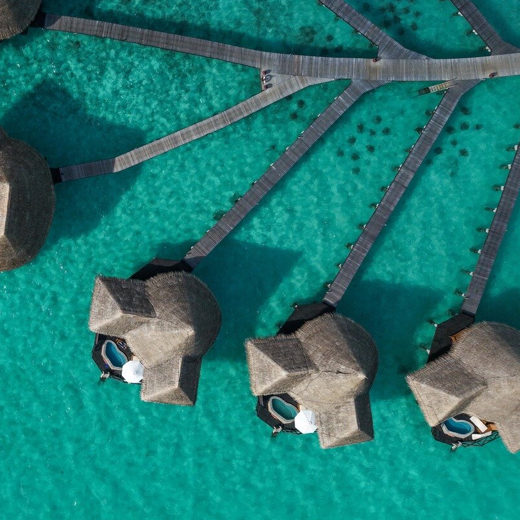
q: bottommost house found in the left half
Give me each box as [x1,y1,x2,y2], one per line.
[88,255,221,407]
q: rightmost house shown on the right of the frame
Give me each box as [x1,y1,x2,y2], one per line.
[396,309,520,454]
